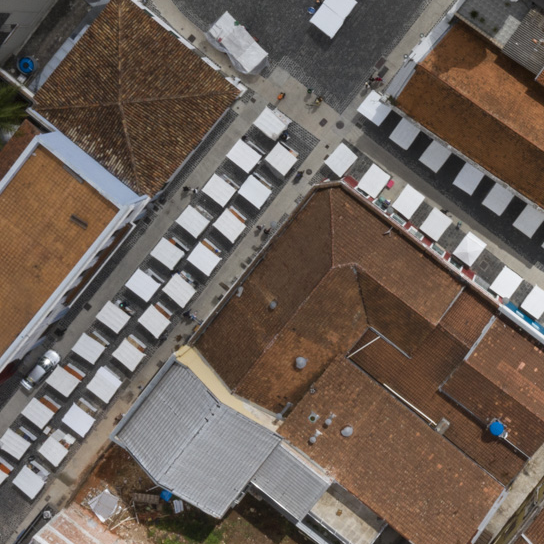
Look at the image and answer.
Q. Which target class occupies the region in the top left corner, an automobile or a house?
house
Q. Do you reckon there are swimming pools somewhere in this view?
No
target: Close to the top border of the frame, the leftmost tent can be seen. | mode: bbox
[208,12,269,73]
